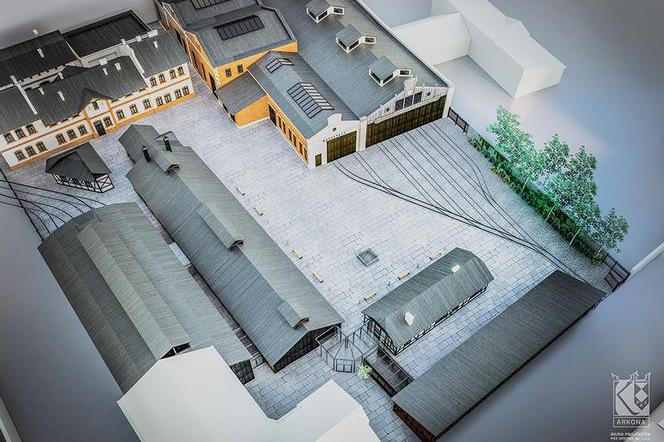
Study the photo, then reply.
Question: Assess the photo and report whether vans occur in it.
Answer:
No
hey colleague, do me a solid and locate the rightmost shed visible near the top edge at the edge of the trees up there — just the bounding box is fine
[246,0,458,169]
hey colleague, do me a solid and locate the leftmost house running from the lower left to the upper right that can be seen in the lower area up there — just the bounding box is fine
[361,248,494,356]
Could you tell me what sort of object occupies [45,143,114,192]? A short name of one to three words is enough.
house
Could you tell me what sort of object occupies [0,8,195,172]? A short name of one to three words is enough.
building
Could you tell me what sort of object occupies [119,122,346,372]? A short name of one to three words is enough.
building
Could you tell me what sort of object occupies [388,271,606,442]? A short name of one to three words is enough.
shed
